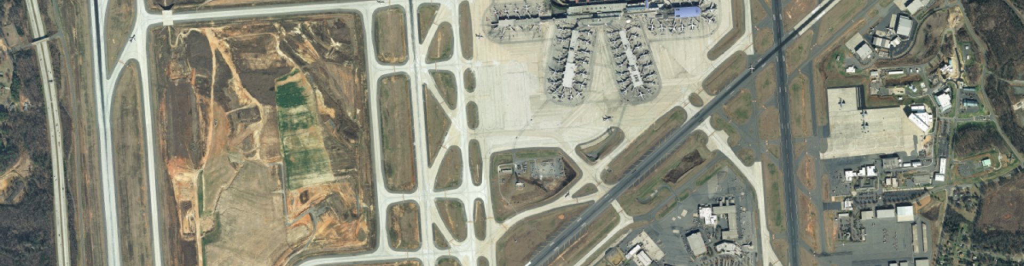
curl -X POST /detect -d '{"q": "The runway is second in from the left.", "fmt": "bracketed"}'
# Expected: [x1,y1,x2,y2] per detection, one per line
[405,0,433,266]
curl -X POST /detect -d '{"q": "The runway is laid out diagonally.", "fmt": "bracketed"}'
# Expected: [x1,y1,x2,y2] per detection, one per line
[524,0,843,266]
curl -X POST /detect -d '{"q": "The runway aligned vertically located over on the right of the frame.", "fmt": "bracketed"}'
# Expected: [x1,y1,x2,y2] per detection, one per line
[770,0,800,266]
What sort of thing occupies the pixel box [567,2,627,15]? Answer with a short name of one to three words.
building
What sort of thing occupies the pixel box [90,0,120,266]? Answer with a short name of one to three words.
runway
